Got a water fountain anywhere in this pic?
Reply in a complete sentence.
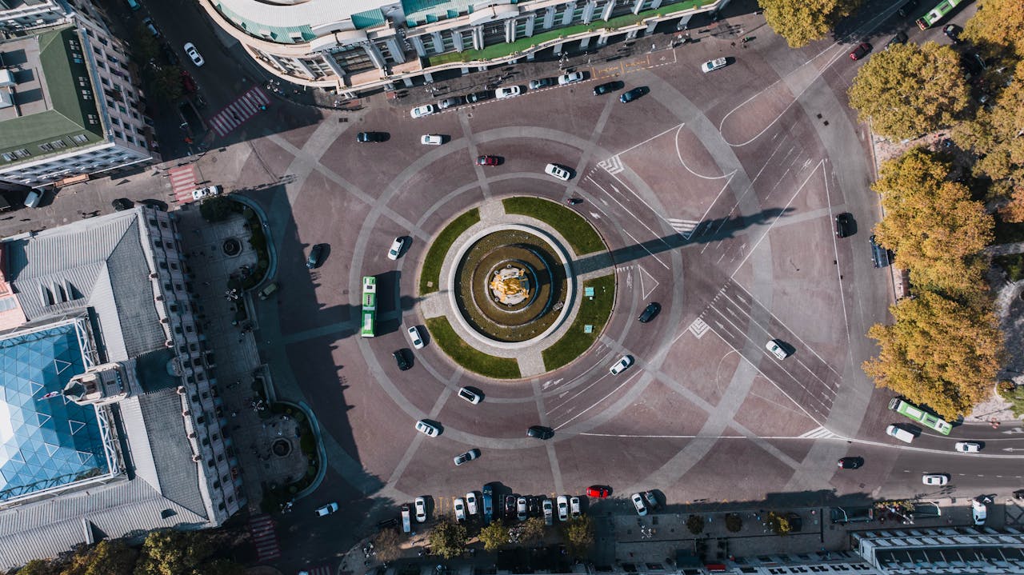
Yes, there is a water fountain in the image.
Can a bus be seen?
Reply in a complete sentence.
Yes, this view includes a bus.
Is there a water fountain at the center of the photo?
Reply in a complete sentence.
Yes, you'll find a water fountain at the center of the photo.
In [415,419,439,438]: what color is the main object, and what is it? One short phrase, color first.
white car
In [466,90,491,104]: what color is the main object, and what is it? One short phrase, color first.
black car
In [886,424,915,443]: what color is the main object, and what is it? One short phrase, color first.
white vehicle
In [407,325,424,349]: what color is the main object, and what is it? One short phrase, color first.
white car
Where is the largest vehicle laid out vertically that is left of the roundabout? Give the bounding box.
[360,276,378,339]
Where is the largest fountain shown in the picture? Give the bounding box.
[448,222,576,351]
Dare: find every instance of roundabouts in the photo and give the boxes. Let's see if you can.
[419,196,617,379]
